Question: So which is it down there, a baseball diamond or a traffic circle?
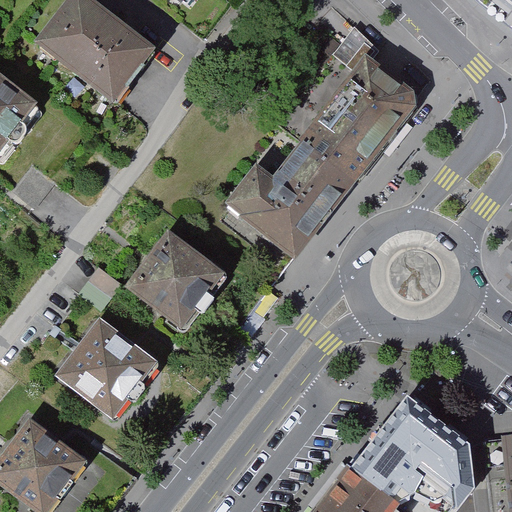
traffic circle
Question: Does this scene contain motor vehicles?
Yes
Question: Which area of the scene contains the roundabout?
right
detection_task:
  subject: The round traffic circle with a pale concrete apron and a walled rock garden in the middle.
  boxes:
[349,210,481,342]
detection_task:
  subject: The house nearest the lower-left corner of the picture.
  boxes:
[0,419,87,512]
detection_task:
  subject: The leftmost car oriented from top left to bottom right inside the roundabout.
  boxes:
[437,232,457,250]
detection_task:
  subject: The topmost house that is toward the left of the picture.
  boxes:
[36,0,155,107]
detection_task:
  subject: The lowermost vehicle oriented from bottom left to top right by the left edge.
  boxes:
[0,344,20,366]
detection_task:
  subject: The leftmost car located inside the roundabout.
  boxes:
[354,250,375,268]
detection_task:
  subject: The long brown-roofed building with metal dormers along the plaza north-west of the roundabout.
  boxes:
[224,56,418,256]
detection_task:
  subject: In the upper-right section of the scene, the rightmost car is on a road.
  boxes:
[491,82,508,103]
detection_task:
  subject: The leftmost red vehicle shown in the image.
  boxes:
[154,51,172,68]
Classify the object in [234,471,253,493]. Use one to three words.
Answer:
car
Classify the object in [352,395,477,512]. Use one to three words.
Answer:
building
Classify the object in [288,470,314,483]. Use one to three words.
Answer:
vehicle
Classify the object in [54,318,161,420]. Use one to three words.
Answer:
house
